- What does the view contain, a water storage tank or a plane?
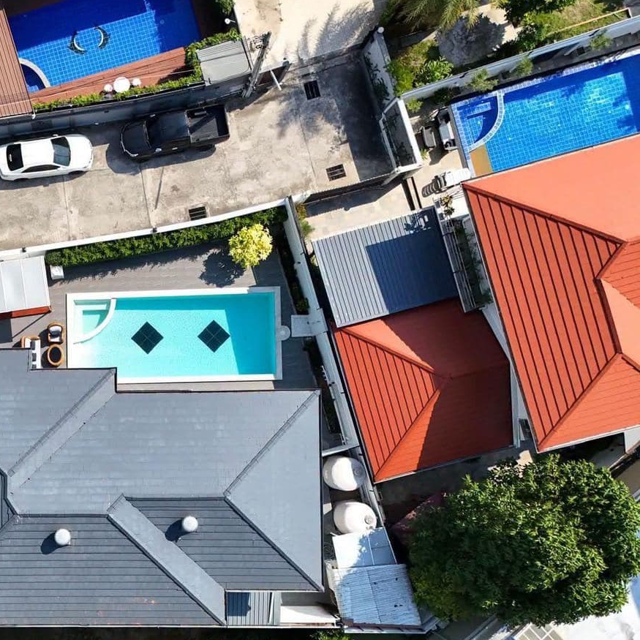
water storage tank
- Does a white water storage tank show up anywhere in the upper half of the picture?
No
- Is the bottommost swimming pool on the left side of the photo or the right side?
left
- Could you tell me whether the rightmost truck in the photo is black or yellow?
black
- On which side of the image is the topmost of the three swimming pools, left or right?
left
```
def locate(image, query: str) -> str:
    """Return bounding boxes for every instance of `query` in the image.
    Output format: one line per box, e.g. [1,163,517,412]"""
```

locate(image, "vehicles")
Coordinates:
[120,106,230,160]
[0,133,91,184]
